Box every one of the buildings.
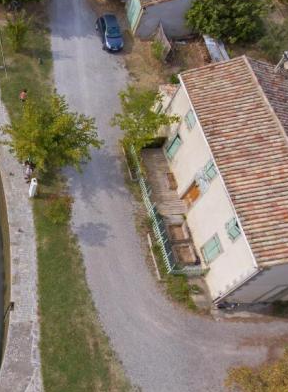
[120,0,213,36]
[153,55,288,302]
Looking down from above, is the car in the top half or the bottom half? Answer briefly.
top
